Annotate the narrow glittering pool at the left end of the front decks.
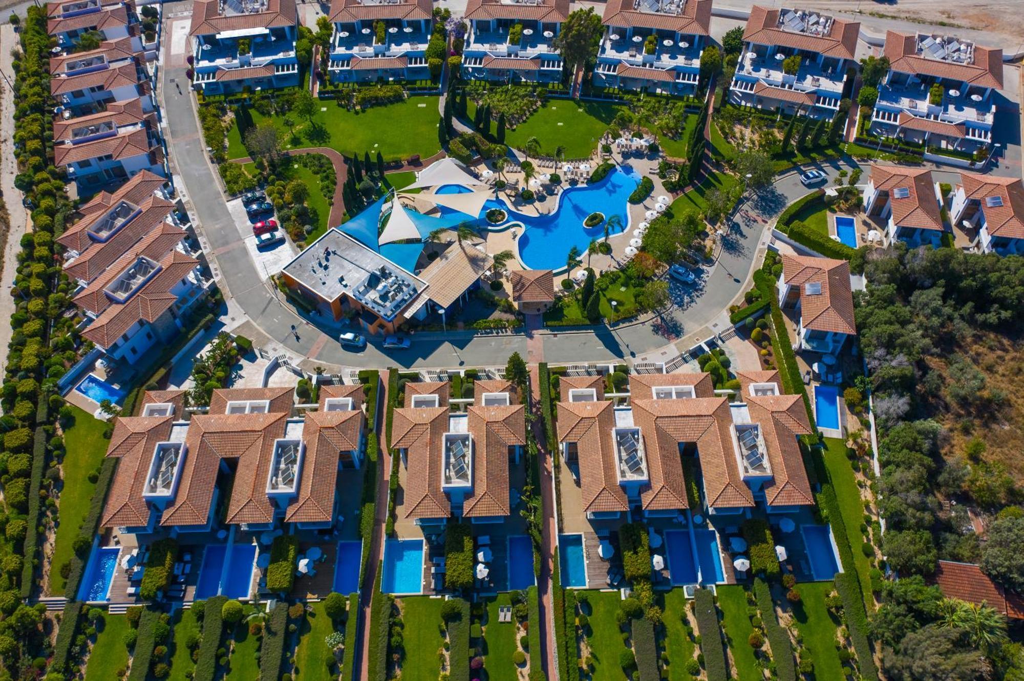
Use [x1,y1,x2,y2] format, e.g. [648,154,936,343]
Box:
[77,545,124,605]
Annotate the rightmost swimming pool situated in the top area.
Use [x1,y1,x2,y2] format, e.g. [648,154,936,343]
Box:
[834,214,859,250]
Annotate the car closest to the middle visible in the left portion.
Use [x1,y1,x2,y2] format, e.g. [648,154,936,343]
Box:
[383,335,412,349]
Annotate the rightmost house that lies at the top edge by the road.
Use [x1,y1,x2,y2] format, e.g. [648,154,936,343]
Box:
[866,29,1007,176]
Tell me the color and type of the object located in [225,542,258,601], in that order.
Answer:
blue swimming pool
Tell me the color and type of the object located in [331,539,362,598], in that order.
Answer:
blue swimming pool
